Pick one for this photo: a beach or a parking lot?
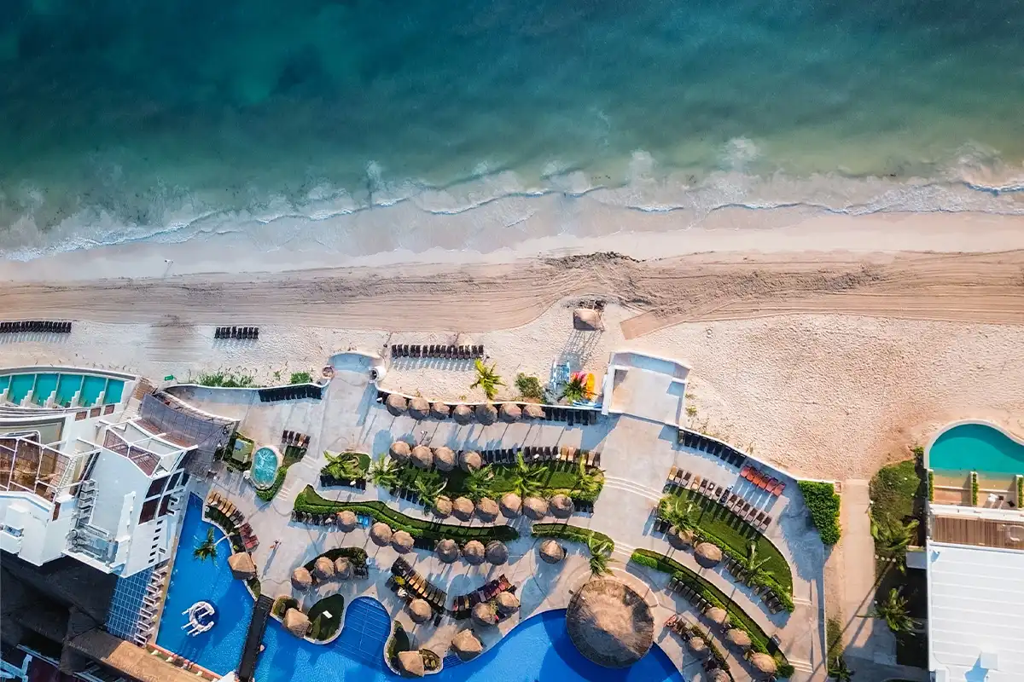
beach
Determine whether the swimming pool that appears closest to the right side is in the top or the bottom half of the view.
bottom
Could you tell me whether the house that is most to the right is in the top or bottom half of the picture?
bottom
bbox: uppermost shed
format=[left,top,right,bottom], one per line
[573,303,603,331]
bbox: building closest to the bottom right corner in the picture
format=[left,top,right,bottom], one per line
[924,503,1024,682]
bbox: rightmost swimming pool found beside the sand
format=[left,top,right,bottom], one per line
[924,419,1024,507]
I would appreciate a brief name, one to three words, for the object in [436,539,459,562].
umbrella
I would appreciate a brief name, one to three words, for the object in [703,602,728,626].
umbrella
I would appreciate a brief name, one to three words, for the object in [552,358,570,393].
boat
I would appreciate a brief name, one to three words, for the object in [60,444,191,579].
building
